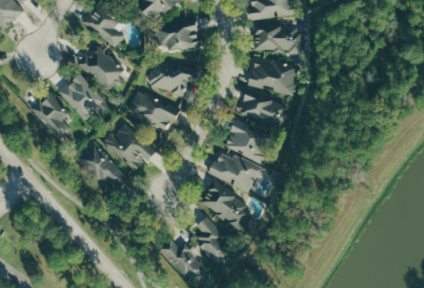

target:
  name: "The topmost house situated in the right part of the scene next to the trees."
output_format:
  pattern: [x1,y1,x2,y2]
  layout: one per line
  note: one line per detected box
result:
[247,0,296,24]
